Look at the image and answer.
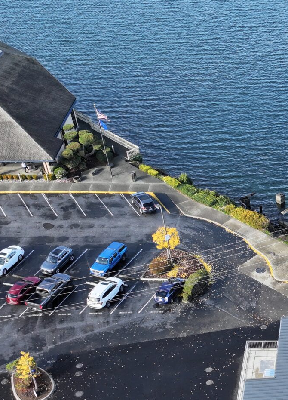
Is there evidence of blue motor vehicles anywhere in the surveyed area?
Yes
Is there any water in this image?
Yes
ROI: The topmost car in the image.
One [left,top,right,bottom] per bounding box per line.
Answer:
[128,188,157,214]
